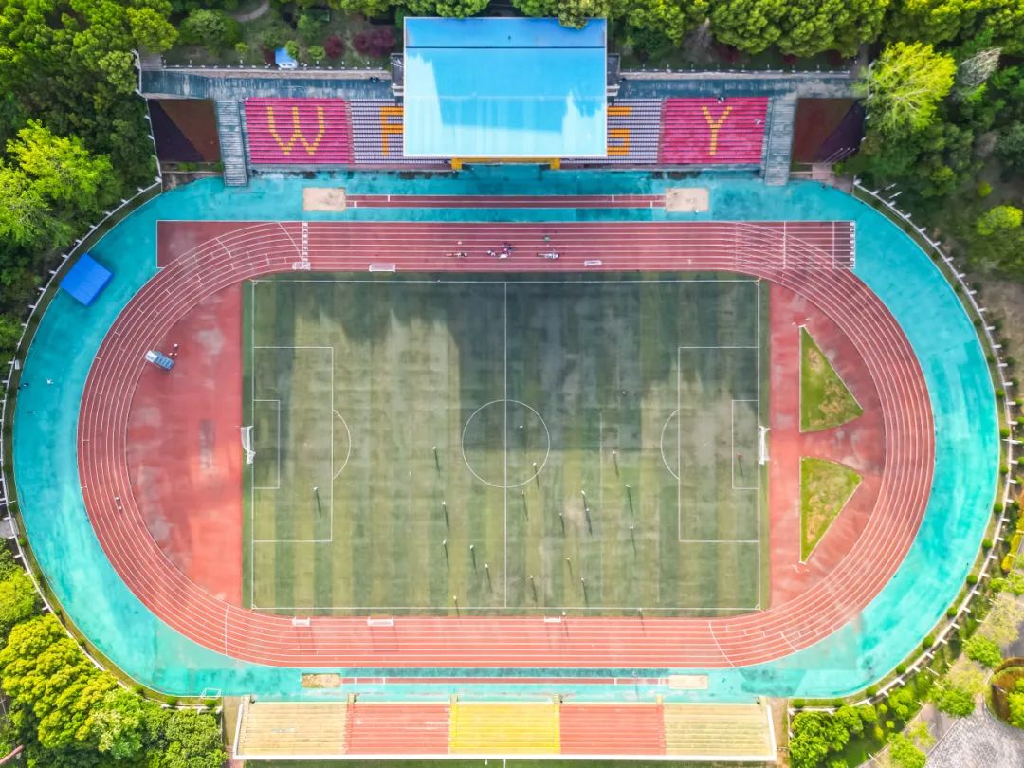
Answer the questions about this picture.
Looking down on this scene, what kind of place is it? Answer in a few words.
sports ground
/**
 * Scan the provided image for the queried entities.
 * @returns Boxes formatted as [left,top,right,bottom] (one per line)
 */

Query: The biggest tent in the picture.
[61,253,120,306]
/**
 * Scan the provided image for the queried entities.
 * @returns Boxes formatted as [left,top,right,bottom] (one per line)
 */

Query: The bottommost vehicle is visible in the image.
[142,348,175,371]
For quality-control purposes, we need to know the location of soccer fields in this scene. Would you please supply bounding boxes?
[242,271,769,618]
